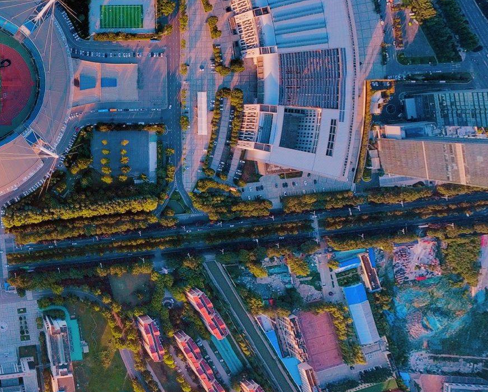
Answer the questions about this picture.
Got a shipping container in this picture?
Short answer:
No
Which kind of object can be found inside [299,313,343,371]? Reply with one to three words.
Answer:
sports court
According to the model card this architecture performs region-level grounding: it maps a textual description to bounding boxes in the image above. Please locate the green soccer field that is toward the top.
[100,4,144,27]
